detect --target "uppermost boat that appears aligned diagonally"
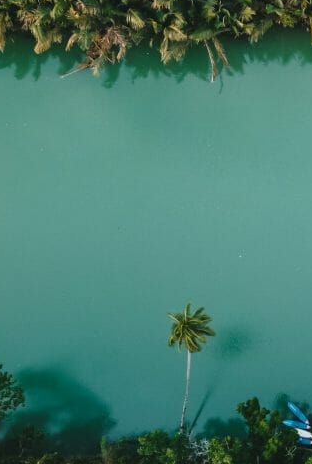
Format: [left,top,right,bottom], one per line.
[287,402,308,424]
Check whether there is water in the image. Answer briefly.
Yes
